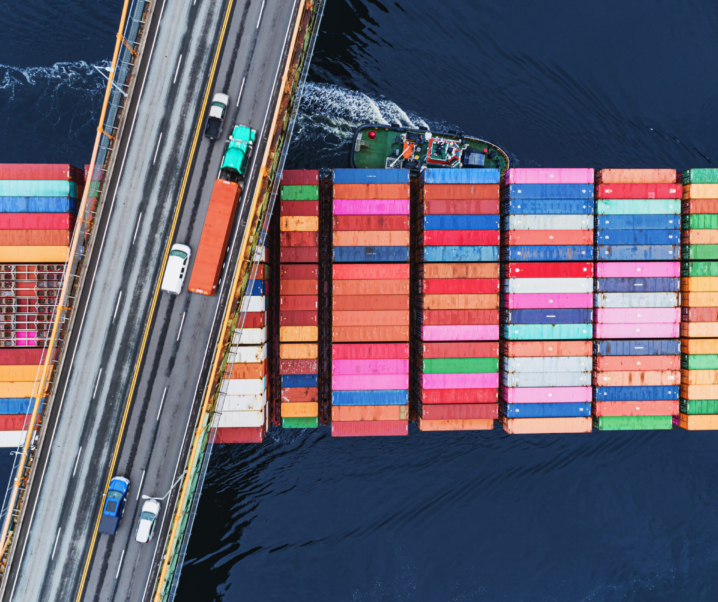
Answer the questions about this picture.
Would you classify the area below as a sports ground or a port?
port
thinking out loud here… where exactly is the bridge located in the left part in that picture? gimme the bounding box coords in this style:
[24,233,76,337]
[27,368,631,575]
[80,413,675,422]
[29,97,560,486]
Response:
[0,0,328,602]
